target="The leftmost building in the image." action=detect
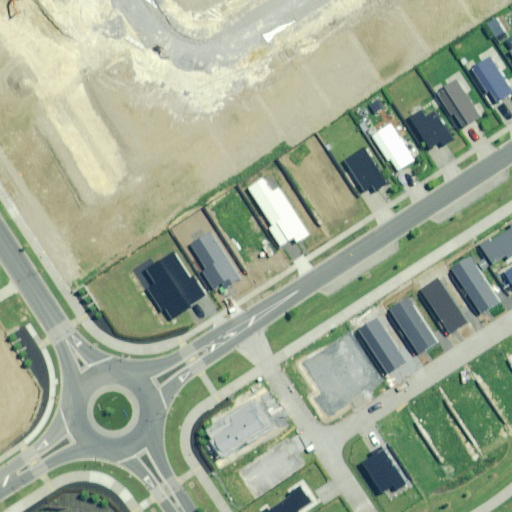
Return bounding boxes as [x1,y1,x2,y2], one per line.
[146,252,204,318]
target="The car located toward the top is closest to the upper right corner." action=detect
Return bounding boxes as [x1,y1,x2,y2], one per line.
[498,103,511,119]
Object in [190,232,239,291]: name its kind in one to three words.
house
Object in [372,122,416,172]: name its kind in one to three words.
house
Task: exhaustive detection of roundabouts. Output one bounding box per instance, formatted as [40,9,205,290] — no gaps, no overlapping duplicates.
[16,320,213,512]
